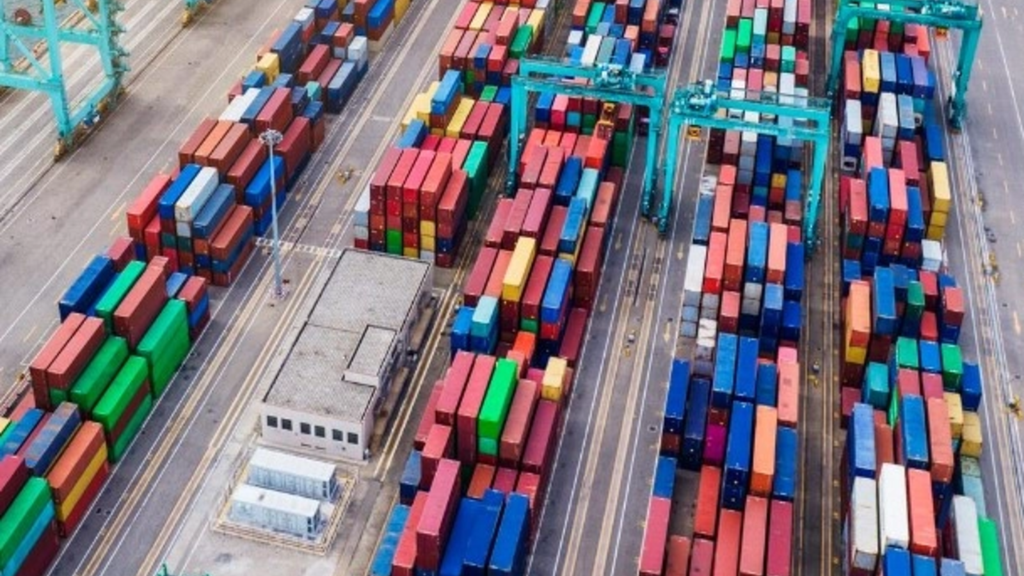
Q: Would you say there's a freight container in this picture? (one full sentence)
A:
Yes, a freight container is visible in the scene.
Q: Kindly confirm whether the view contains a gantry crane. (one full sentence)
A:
Yes, a gantry crane is visible in the scene.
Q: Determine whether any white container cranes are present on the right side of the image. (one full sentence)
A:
No, I see no white container crane on the right side of the image.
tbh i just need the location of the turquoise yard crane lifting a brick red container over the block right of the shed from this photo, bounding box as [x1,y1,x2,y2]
[510,50,665,216]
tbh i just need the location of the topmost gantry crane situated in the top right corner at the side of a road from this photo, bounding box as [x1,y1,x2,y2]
[832,0,983,127]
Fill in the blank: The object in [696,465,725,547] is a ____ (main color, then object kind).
red shipping container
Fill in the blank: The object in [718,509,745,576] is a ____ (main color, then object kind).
red shipping container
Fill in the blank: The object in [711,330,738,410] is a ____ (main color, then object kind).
blue shipping container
